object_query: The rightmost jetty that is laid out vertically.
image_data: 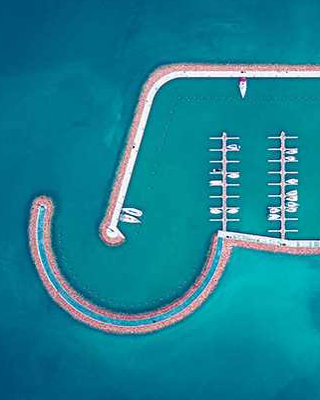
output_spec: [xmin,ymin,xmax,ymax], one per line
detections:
[268,131,298,239]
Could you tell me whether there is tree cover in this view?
No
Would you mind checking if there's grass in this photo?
No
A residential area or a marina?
marina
